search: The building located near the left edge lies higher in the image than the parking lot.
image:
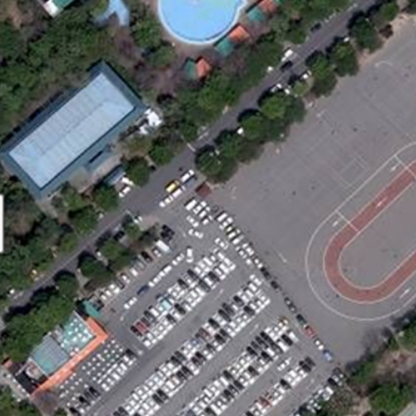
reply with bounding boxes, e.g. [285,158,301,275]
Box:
[0,61,146,198]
